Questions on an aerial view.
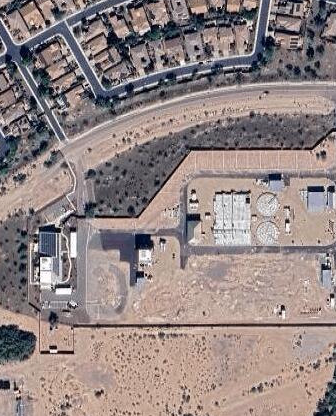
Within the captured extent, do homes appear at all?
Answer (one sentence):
Yes, there's a home here.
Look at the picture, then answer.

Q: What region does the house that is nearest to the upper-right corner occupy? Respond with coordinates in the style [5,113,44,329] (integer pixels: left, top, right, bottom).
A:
[322,3,336,40]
